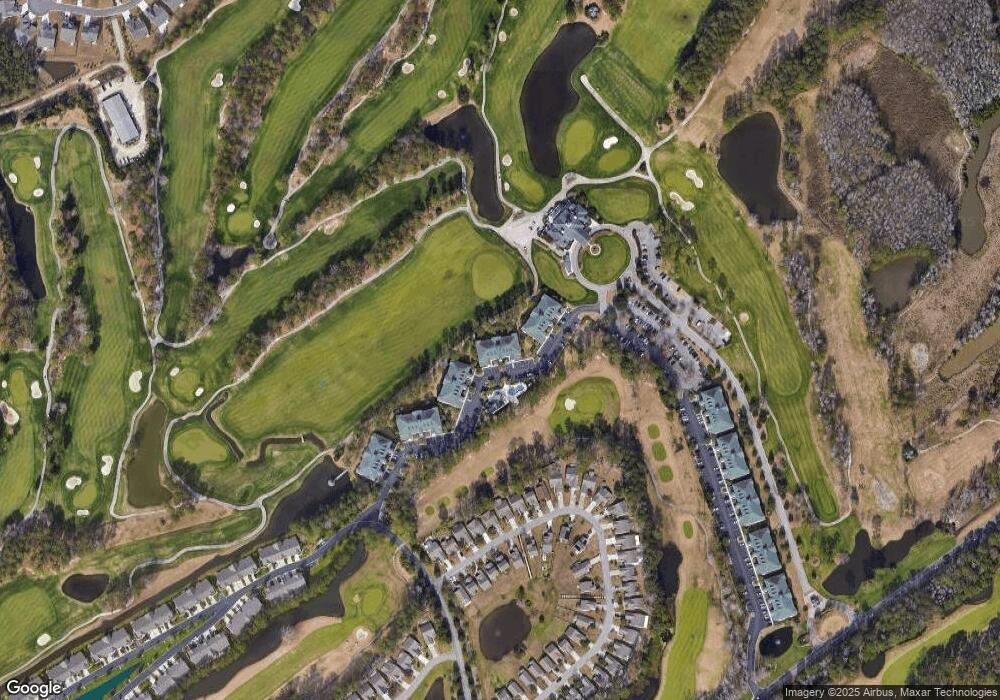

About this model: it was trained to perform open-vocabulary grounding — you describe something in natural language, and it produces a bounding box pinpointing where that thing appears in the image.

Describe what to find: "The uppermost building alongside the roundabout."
[541,195,591,250]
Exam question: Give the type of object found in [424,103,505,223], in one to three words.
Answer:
pond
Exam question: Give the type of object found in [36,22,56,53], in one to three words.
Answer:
house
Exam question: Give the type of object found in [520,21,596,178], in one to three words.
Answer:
pond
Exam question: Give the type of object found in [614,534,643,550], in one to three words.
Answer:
house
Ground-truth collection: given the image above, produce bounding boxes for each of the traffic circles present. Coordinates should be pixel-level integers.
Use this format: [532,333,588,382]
[572,225,637,289]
